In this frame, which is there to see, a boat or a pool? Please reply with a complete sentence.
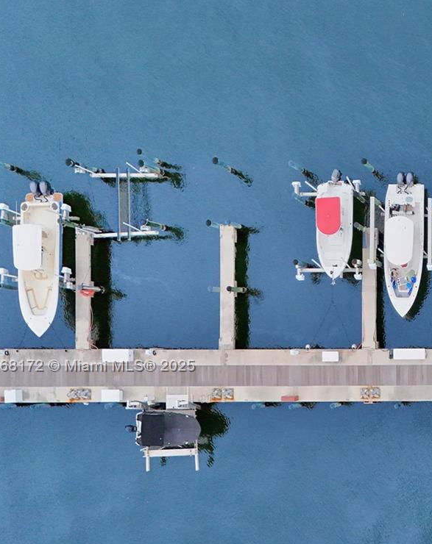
It is a boat that can be seen here.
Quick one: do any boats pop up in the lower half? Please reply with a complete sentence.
Yes, there is a boat in the lower half.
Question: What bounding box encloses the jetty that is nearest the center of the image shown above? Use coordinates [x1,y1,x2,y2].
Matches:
[221,224,240,350]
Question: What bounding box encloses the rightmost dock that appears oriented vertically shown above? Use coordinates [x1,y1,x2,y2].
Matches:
[362,228,381,350]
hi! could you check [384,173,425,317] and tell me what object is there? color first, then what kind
white boat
